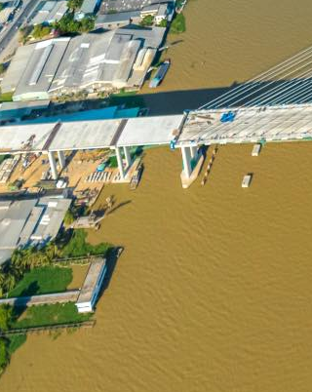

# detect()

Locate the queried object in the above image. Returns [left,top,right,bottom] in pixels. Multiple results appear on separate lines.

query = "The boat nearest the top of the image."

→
[147,57,170,86]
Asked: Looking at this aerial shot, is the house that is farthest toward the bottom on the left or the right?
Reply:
left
